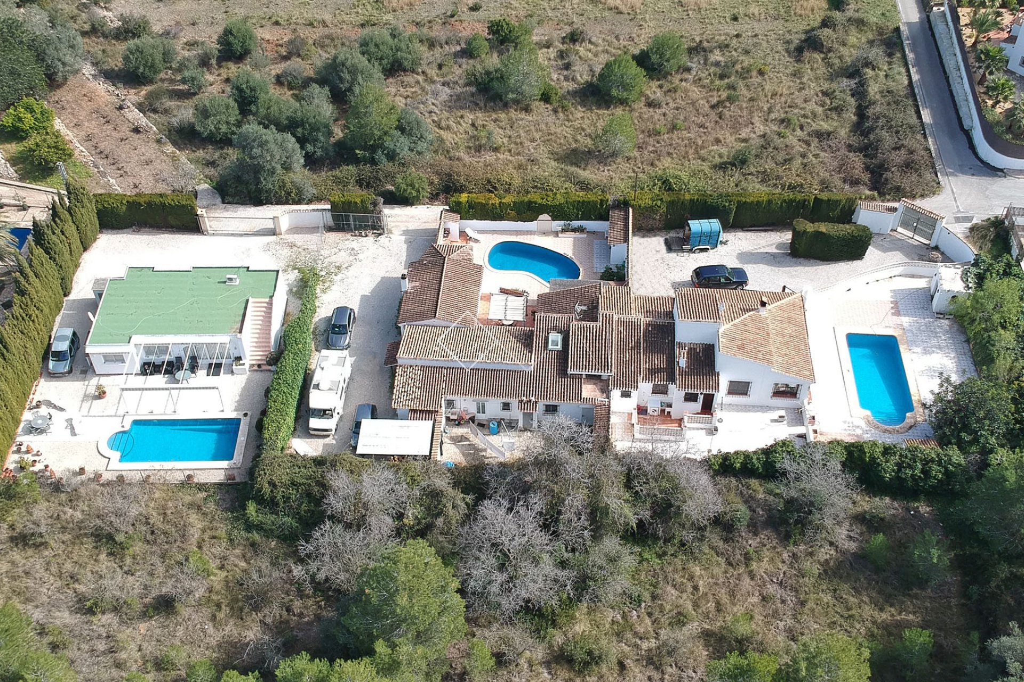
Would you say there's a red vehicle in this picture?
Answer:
No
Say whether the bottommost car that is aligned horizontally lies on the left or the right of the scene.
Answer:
right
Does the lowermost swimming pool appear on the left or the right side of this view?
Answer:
left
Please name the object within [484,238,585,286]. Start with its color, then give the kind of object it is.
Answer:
blue swimming pool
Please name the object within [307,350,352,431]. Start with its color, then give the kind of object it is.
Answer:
white van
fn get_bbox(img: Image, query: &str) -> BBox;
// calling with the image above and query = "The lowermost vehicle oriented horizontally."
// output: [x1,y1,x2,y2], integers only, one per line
[693,265,748,292]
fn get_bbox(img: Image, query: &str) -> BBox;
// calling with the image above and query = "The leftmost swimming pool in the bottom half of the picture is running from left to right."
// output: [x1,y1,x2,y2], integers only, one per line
[97,413,250,470]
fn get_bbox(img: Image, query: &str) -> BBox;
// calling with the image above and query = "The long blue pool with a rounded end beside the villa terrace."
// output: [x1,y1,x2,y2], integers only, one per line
[837,327,926,434]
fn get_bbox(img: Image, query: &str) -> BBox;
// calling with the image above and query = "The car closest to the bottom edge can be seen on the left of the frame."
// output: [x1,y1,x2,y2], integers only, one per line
[345,399,381,449]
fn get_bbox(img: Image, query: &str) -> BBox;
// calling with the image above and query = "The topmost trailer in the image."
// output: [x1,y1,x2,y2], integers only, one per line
[675,226,733,257]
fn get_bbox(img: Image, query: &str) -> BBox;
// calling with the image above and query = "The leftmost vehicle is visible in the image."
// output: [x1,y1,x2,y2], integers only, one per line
[48,331,79,372]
